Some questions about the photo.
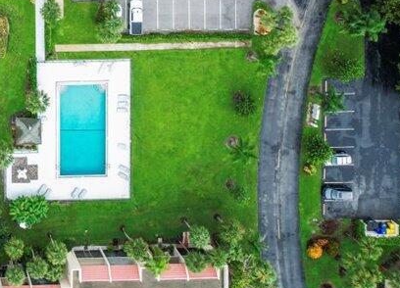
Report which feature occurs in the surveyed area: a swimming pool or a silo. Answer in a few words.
swimming pool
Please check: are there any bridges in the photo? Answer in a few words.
No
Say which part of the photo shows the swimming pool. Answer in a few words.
left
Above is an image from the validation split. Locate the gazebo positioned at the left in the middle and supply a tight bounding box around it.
[13,114,43,145]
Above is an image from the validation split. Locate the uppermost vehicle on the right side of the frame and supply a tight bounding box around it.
[323,151,353,166]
